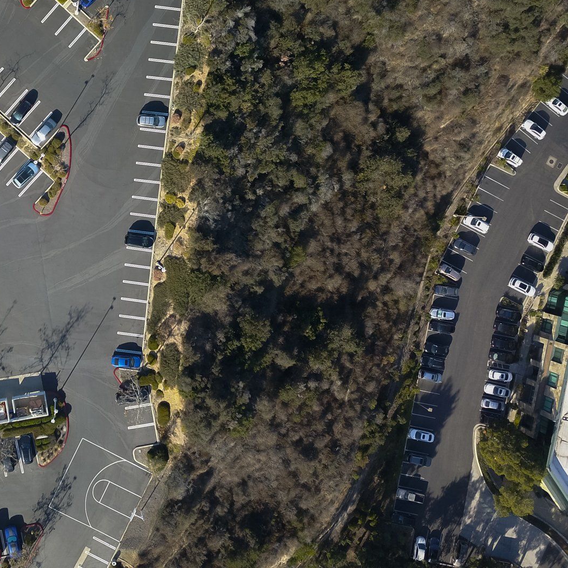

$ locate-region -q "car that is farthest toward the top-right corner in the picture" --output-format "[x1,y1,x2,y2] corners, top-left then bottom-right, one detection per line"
[543,97,568,119]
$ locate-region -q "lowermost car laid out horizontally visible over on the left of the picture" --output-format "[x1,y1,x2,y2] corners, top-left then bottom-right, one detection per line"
[118,387,149,403]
